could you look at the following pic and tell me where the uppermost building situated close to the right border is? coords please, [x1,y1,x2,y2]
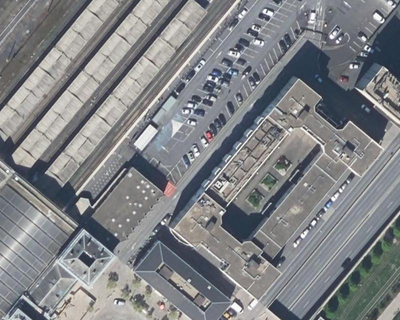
[356,64,400,124]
